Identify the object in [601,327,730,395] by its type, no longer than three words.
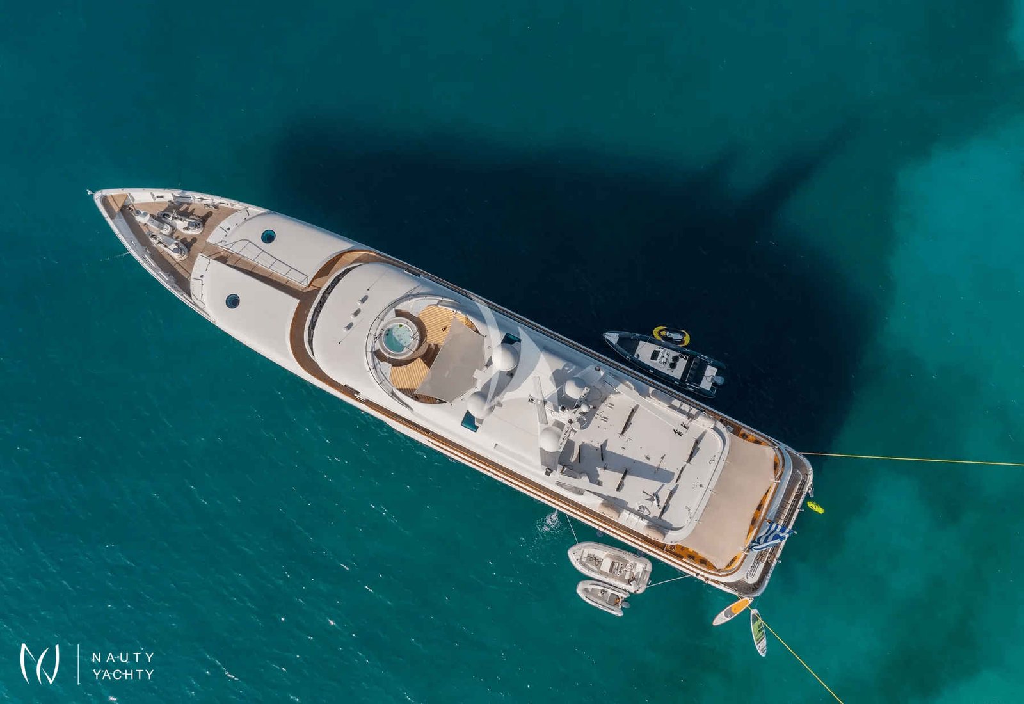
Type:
boat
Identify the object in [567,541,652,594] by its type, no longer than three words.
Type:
boat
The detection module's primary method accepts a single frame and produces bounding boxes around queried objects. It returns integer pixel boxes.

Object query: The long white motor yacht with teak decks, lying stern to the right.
[84,183,815,597]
